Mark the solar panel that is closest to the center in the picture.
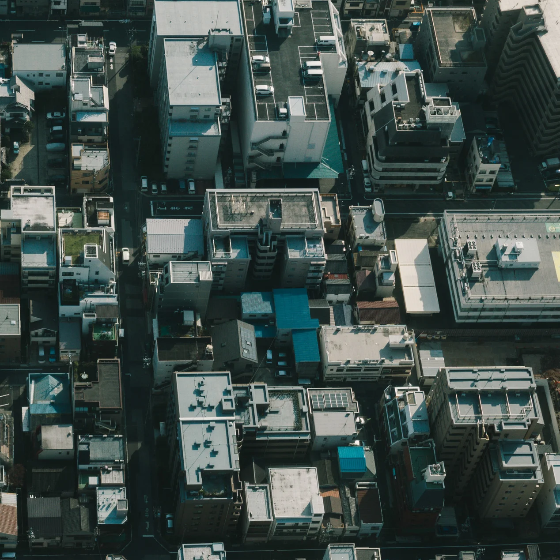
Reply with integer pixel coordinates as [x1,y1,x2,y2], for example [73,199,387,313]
[236,322,257,363]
